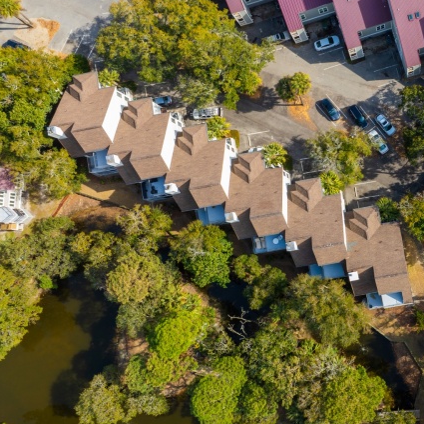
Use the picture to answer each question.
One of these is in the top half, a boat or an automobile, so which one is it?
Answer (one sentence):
What appears in the top half is an automobile.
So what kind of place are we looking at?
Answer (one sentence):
The area seen from above is a residential area.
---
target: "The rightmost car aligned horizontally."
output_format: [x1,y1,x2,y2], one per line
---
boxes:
[315,37,341,52]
